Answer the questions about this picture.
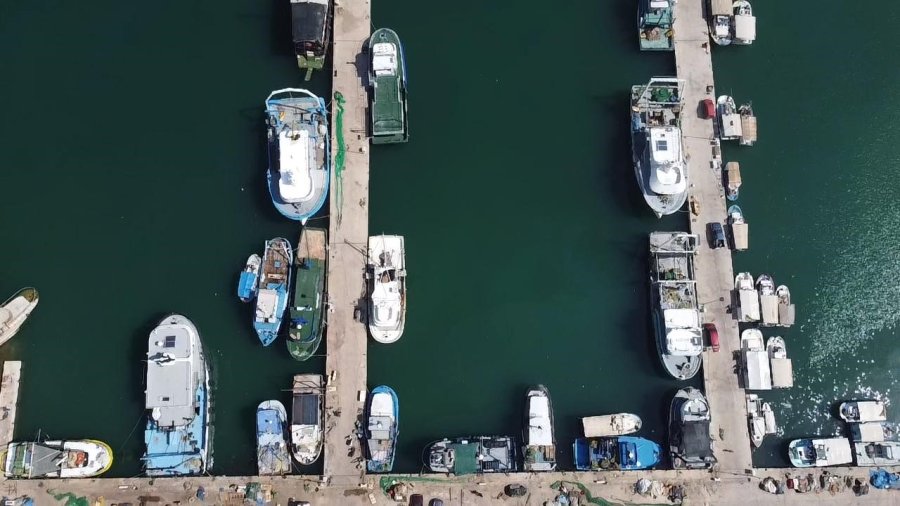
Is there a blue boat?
Yes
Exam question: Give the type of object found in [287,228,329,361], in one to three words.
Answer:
boat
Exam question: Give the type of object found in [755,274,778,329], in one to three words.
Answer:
boat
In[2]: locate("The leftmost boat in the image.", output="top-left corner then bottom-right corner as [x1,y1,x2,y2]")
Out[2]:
[0,286,42,348]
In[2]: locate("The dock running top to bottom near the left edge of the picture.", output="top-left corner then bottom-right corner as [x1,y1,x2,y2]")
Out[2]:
[0,361,26,478]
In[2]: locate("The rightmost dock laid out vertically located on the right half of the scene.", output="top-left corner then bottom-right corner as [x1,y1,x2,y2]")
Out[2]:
[673,0,752,468]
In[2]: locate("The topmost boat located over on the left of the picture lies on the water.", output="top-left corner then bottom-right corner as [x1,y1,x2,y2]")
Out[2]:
[289,0,336,81]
